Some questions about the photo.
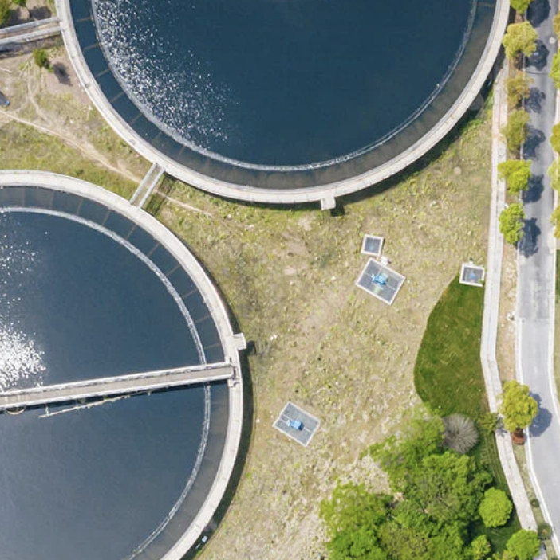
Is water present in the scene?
Yes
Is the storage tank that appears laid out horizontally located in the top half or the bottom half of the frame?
top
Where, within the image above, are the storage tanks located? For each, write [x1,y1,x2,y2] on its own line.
[57,0,510,215]
[0,170,248,560]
